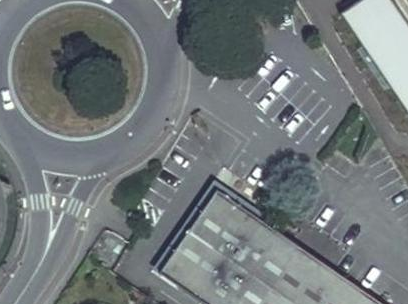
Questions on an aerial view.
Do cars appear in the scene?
Yes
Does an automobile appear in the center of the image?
Yes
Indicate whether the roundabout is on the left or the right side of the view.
left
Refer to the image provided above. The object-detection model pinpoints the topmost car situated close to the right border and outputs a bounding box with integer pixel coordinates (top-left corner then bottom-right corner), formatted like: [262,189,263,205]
[391,189,408,206]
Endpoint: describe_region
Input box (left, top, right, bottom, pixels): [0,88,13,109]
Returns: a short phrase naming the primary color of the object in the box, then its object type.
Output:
white vehicle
